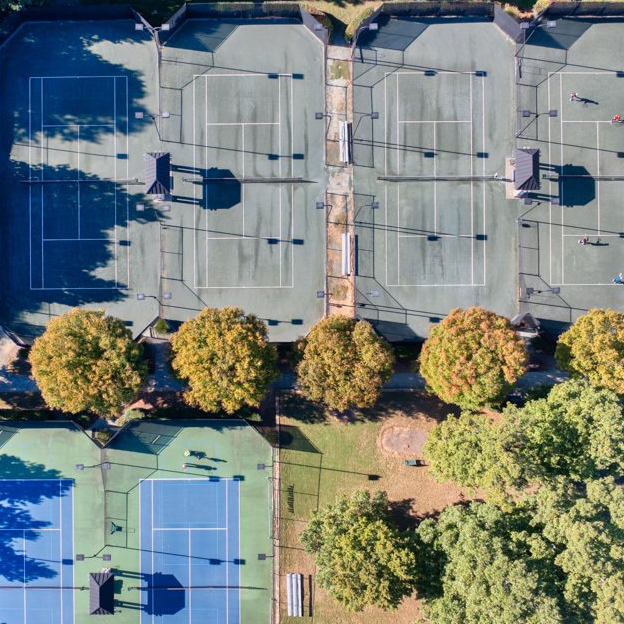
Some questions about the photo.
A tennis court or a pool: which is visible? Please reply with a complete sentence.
I can see a tennis court in this picture.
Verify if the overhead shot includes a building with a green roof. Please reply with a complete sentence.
No, there isn't any building with a green roof down there.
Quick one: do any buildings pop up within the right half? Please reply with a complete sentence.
Yes, I can see a building within the right half.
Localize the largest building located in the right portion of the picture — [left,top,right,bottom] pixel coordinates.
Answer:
[505,148,541,200]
